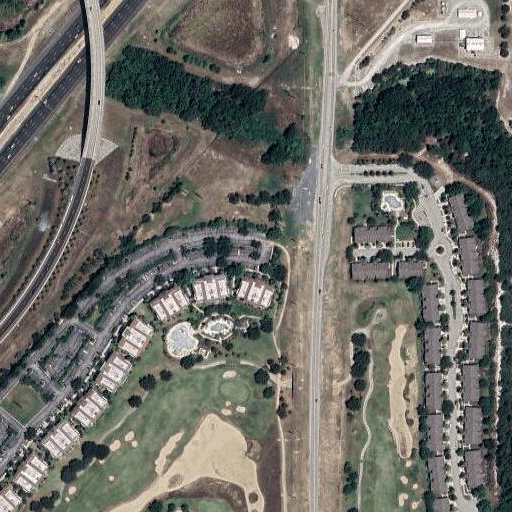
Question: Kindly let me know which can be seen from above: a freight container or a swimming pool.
swimming pool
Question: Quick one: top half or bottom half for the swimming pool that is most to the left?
bottom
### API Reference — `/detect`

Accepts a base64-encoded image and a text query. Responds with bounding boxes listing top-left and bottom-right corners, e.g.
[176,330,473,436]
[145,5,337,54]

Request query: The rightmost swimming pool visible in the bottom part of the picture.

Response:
[206,319,232,336]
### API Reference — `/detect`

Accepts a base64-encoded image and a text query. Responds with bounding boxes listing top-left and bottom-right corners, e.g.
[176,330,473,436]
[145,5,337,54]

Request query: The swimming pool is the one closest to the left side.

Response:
[166,321,199,359]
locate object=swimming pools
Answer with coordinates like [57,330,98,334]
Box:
[381,192,405,211]
[206,319,232,336]
[166,321,199,359]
